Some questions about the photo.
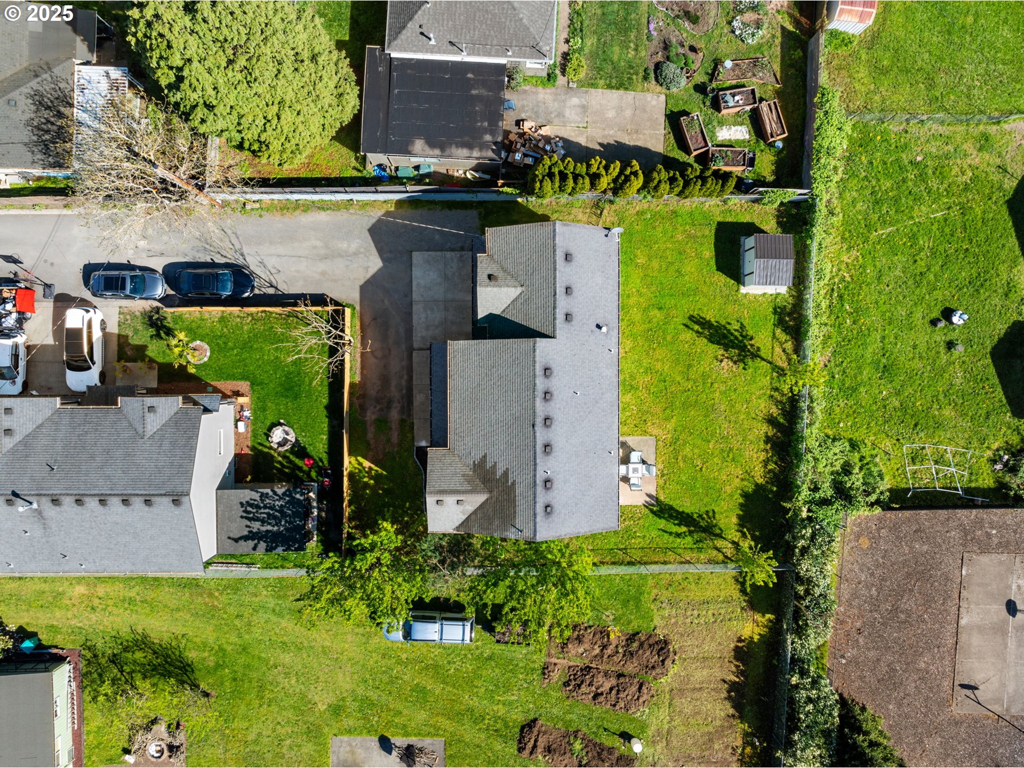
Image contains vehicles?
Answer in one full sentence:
Yes, a vehicle can be made out from above.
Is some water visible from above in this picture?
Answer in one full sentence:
No, the picture contains no water.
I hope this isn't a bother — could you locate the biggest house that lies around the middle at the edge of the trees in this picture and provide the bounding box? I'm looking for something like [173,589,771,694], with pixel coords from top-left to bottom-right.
[425,221,622,541]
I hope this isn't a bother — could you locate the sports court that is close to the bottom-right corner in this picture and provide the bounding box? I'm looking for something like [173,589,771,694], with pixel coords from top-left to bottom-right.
[953,552,1024,715]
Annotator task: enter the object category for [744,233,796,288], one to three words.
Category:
shed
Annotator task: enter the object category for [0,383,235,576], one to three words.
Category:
house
